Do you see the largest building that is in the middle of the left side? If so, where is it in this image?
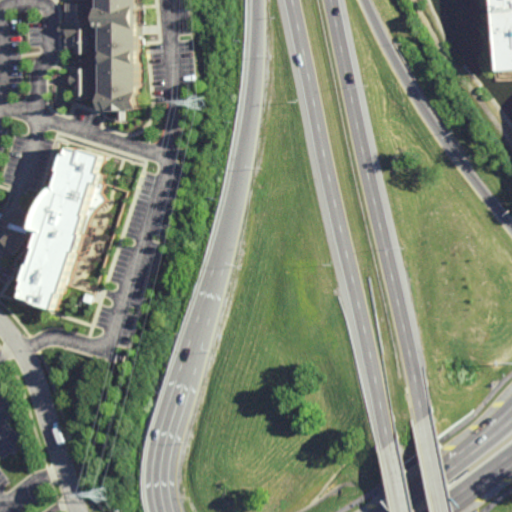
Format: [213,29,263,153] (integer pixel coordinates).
[7,148,108,310]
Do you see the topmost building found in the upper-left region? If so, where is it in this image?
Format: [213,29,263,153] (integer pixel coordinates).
[87,0,148,122]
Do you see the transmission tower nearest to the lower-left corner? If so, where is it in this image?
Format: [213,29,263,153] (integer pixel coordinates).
[66,486,110,504]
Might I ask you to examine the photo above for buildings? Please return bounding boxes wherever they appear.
[486,0,512,85]
[7,148,108,310]
[87,0,148,122]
